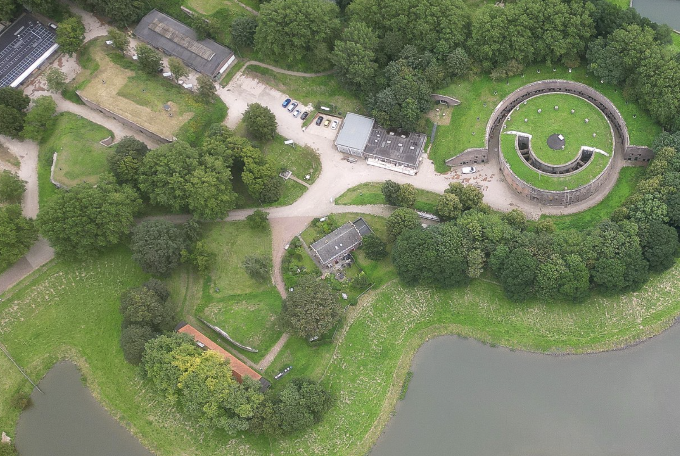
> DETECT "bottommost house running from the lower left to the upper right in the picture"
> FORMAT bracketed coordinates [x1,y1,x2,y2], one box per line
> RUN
[310,217,375,266]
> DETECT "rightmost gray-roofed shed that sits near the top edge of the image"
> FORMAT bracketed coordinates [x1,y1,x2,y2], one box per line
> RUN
[134,9,237,80]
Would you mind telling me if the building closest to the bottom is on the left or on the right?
left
